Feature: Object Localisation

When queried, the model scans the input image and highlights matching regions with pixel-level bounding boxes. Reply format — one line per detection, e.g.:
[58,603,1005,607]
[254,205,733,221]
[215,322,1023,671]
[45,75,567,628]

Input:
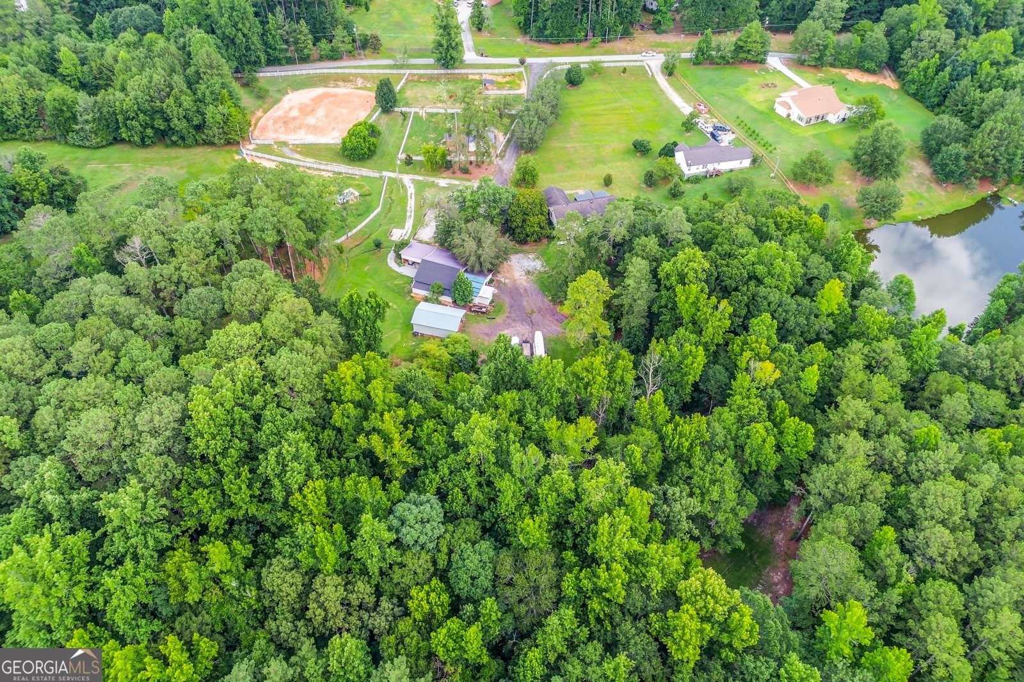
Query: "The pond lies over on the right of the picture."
[848,191,1024,355]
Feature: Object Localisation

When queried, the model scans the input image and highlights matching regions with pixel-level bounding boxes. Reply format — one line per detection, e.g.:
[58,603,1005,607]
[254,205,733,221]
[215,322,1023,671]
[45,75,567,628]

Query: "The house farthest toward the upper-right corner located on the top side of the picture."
[772,81,847,125]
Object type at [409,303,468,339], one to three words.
barn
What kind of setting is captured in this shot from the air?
forest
